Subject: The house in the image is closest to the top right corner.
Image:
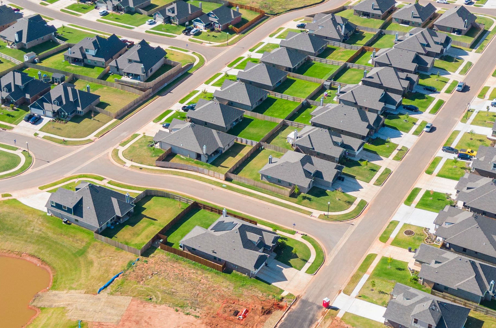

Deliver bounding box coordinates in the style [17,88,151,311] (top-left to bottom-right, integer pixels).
[435,9,477,39]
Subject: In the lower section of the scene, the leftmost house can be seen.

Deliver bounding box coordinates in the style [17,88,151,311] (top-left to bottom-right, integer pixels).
[43,181,135,234]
